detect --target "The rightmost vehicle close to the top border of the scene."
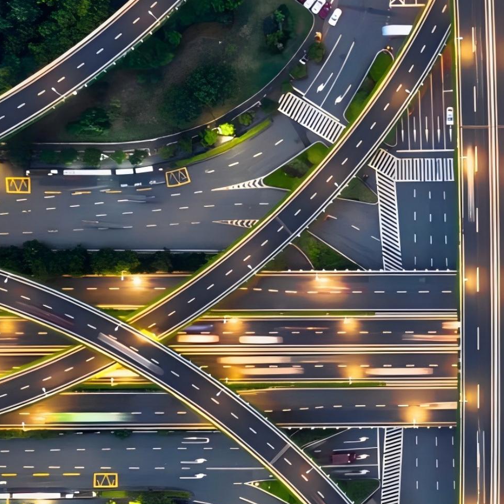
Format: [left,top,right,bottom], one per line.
[380,22,410,37]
